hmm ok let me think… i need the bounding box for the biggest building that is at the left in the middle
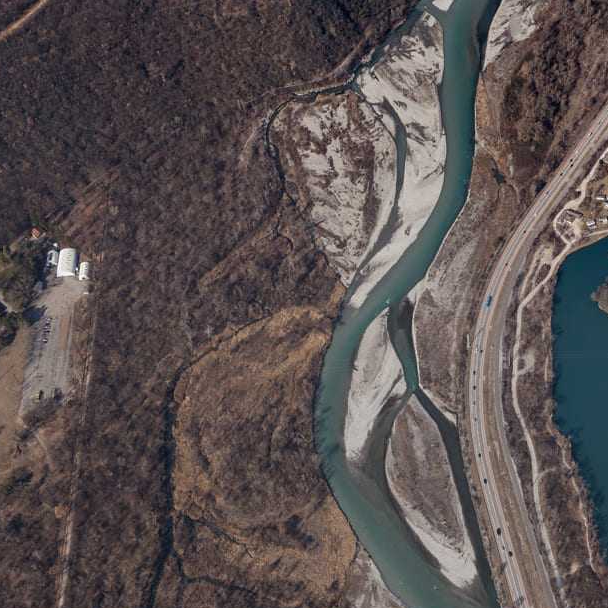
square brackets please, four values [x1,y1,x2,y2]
[56,249,77,277]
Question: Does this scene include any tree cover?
Yes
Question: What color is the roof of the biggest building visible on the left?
white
